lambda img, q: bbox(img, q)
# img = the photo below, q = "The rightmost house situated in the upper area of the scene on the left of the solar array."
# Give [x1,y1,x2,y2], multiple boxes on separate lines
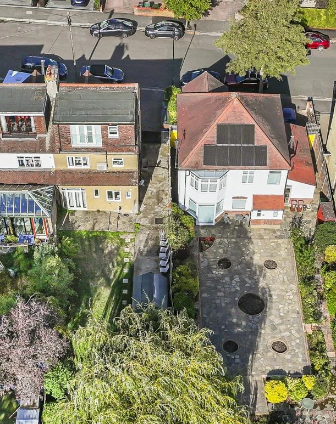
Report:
[52,69,147,214]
